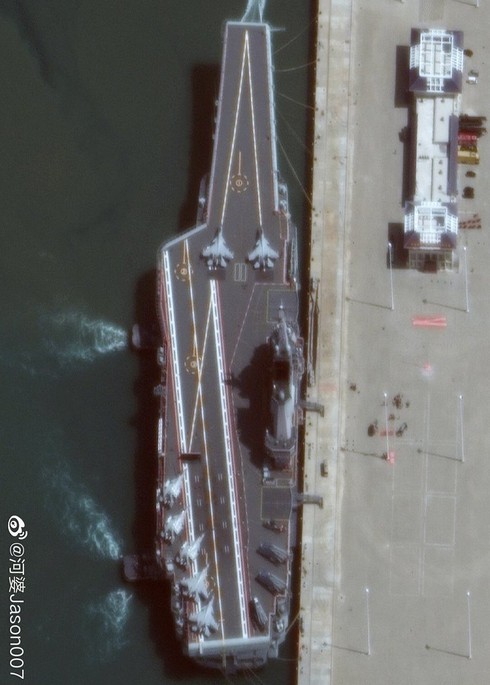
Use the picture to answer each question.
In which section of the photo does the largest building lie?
top right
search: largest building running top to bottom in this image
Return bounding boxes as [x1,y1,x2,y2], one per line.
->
[404,28,464,278]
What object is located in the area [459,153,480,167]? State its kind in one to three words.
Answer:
vehicle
